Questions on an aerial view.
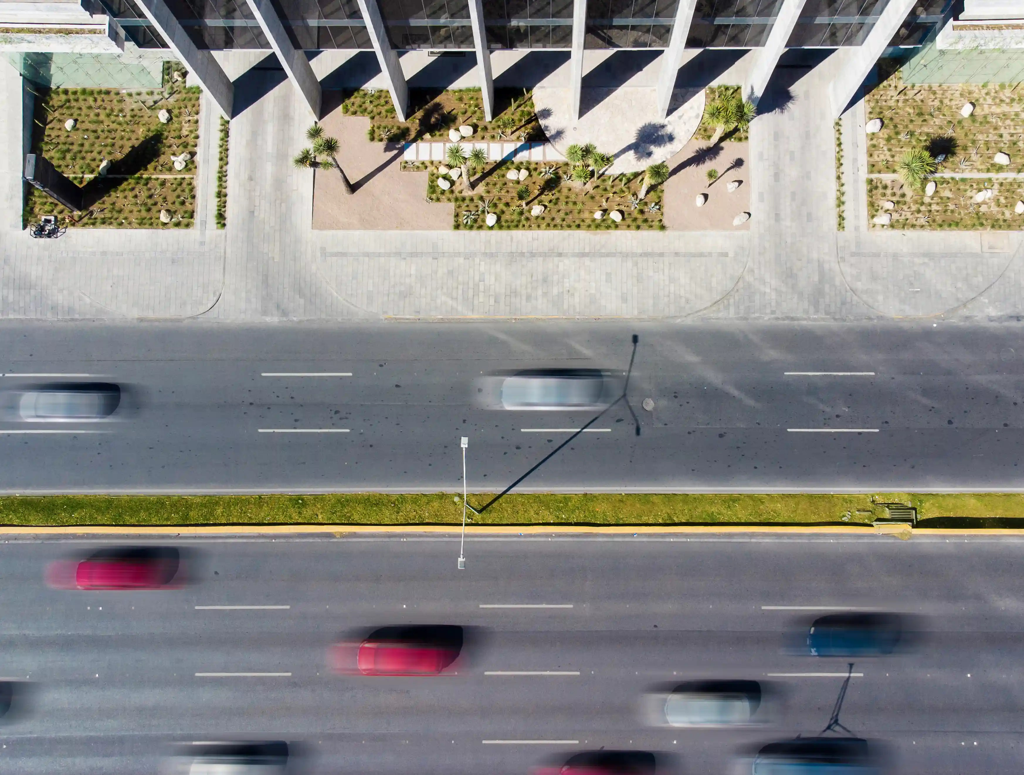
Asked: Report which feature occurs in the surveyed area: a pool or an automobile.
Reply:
automobile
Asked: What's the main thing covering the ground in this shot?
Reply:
paved ground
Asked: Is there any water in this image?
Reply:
No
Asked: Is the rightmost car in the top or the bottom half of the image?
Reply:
bottom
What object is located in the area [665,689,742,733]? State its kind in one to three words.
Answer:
car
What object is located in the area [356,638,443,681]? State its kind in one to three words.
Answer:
car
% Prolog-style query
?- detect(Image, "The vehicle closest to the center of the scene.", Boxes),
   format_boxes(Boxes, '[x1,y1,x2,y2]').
[501,374,585,414]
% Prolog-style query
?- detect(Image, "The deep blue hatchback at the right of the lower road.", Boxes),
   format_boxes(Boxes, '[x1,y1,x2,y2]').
[807,621,881,664]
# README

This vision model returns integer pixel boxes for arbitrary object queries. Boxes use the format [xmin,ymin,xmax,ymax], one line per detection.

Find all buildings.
[903,0,1024,85]
[97,0,953,123]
